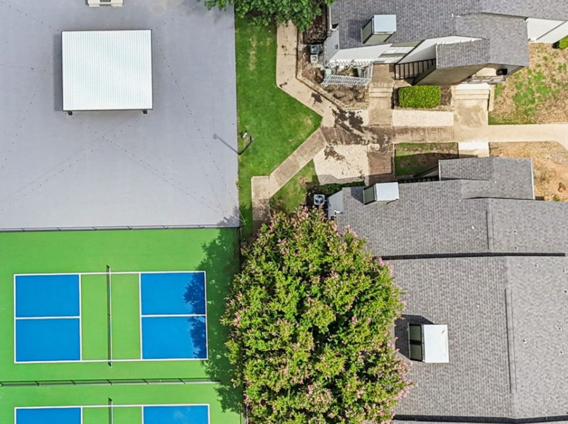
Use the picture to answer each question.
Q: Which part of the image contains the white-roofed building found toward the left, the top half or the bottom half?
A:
top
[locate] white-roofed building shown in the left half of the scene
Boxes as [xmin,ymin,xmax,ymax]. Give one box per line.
[62,28,153,117]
